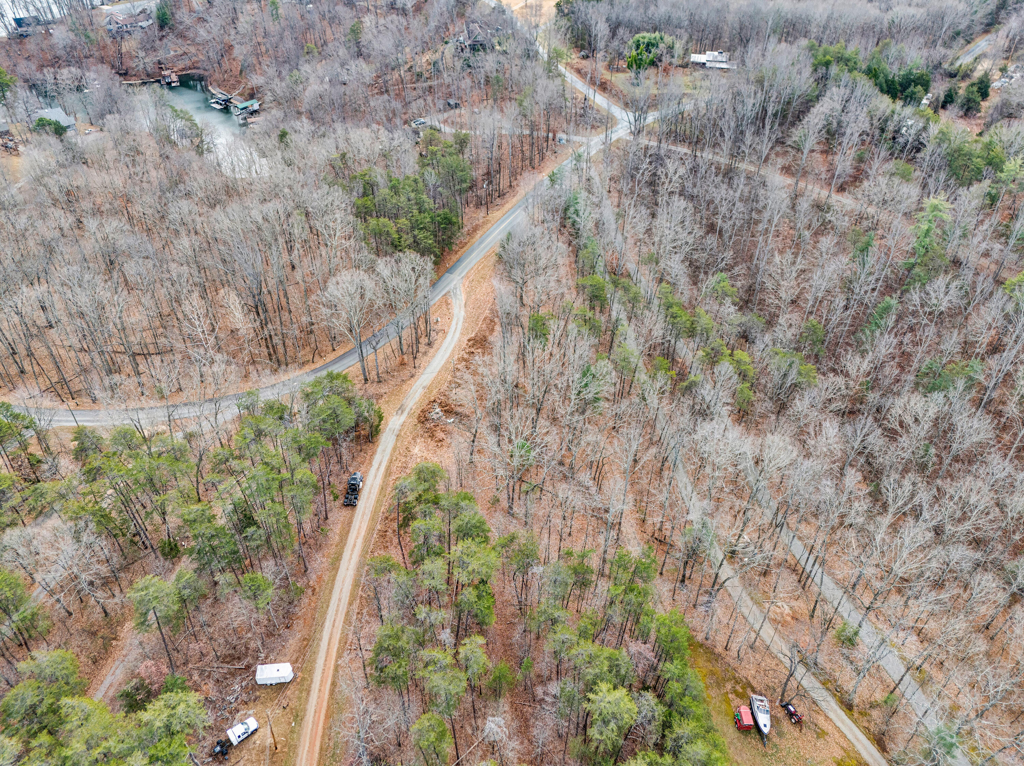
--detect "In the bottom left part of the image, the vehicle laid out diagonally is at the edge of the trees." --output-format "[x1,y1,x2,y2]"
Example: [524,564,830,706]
[214,719,261,756]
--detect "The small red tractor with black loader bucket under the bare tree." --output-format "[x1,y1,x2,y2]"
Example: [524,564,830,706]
[778,701,806,726]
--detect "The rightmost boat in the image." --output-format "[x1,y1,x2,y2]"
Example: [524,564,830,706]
[753,693,772,751]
